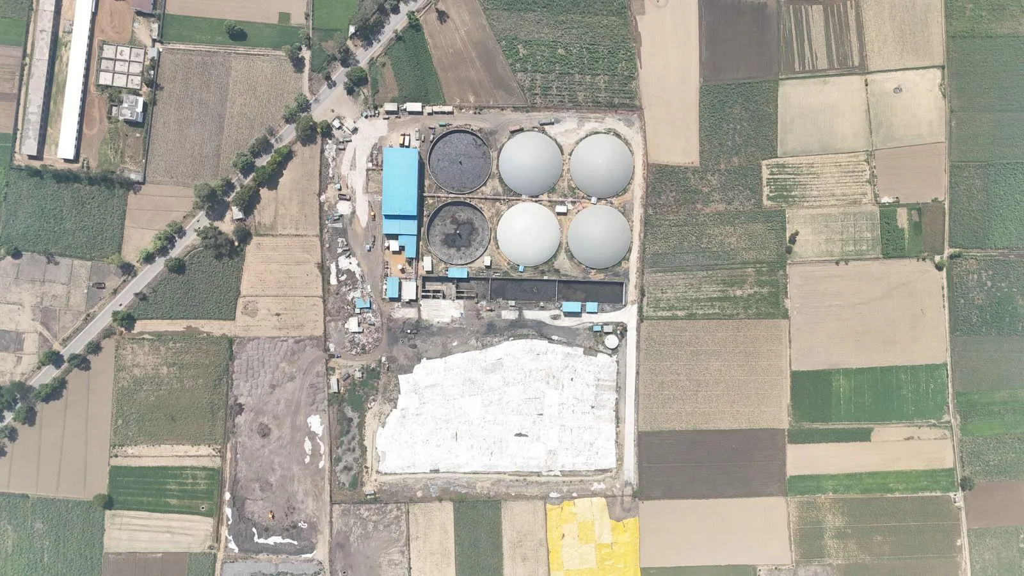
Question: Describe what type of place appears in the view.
industrial area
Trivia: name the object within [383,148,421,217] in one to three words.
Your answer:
building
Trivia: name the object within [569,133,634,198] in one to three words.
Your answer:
storage tank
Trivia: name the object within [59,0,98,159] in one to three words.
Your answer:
shed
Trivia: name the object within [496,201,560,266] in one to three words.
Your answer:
storage tank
